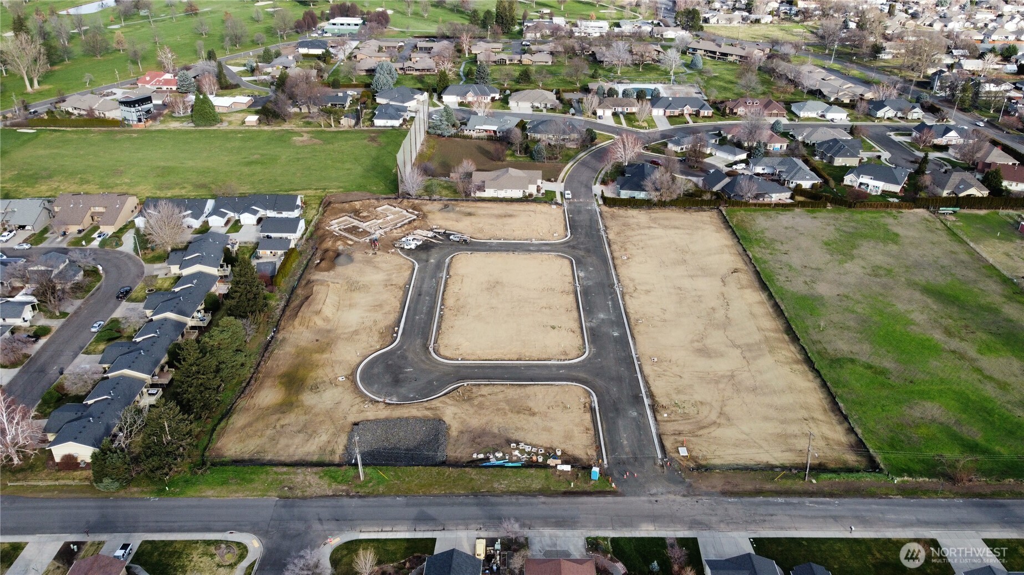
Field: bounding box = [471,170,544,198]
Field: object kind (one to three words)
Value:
house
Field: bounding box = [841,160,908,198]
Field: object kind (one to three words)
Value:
house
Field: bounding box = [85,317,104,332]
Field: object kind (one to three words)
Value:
car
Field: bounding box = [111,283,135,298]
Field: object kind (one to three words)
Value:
vehicle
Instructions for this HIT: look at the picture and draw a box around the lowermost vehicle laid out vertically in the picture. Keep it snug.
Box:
[473,530,486,559]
